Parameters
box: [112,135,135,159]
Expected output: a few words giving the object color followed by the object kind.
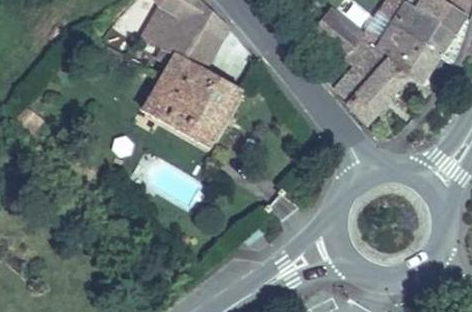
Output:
white gazebo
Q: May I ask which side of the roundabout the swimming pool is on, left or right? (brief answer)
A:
to the left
